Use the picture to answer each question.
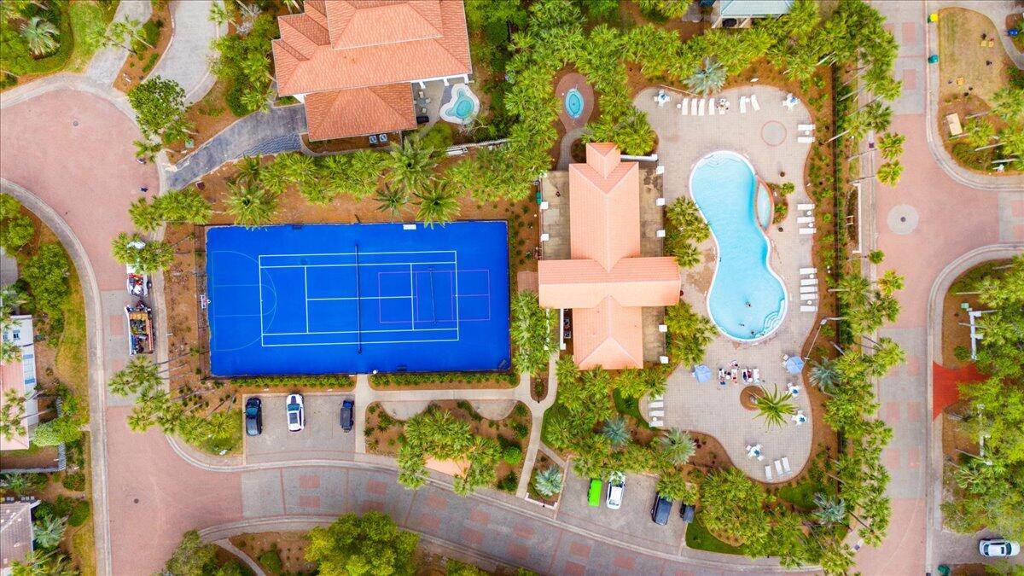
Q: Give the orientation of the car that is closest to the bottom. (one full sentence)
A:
I'd say the car that is closest to the bottom is aligned from side to side in the picture.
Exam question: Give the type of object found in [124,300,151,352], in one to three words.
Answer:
trailer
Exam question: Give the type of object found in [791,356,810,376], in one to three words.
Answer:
umbrella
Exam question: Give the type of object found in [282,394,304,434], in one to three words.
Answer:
car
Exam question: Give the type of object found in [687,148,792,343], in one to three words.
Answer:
swimming pool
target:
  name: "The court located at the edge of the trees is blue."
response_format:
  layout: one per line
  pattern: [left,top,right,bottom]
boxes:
[205,220,512,379]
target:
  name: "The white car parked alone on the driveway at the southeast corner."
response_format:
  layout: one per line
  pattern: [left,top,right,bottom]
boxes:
[980,539,1020,560]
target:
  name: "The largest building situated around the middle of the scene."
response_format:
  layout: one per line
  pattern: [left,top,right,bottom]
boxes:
[538,142,680,371]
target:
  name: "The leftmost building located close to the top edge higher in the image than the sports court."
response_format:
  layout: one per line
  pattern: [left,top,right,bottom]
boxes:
[271,0,472,142]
